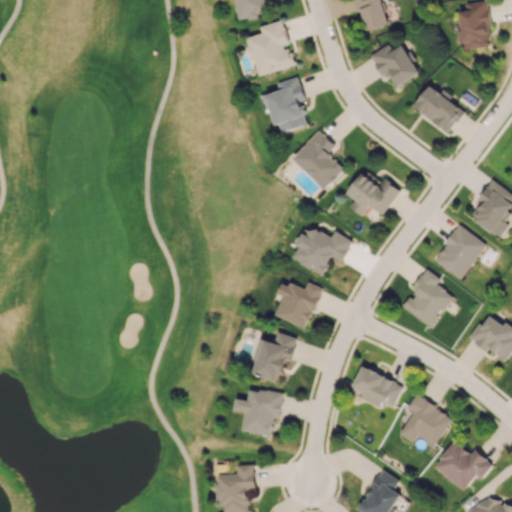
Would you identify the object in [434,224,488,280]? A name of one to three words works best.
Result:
house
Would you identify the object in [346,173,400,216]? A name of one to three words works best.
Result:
house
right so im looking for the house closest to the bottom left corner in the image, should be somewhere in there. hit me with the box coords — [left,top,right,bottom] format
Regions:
[216,462,256,512]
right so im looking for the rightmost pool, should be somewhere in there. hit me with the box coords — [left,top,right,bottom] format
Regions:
[460,88,482,112]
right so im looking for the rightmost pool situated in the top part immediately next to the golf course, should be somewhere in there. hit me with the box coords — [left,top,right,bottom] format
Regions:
[274,154,322,201]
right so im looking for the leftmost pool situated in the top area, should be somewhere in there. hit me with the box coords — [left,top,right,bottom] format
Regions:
[238,50,258,78]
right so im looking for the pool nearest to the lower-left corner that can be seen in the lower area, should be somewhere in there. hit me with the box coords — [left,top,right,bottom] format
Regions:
[233,328,262,368]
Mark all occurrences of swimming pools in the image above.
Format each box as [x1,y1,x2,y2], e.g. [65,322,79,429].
[460,88,482,112]
[238,50,258,78]
[274,154,322,201]
[415,438,428,452]
[233,328,262,368]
